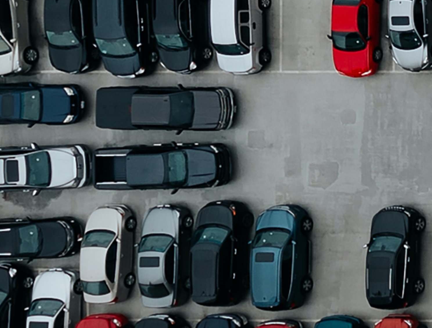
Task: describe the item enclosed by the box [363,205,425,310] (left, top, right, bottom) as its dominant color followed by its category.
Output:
black car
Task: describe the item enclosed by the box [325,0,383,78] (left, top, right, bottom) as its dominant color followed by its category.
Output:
red car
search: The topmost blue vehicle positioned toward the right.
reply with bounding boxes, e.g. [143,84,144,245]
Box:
[247,203,311,312]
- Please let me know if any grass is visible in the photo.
No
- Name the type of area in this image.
parking lot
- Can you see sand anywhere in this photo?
No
